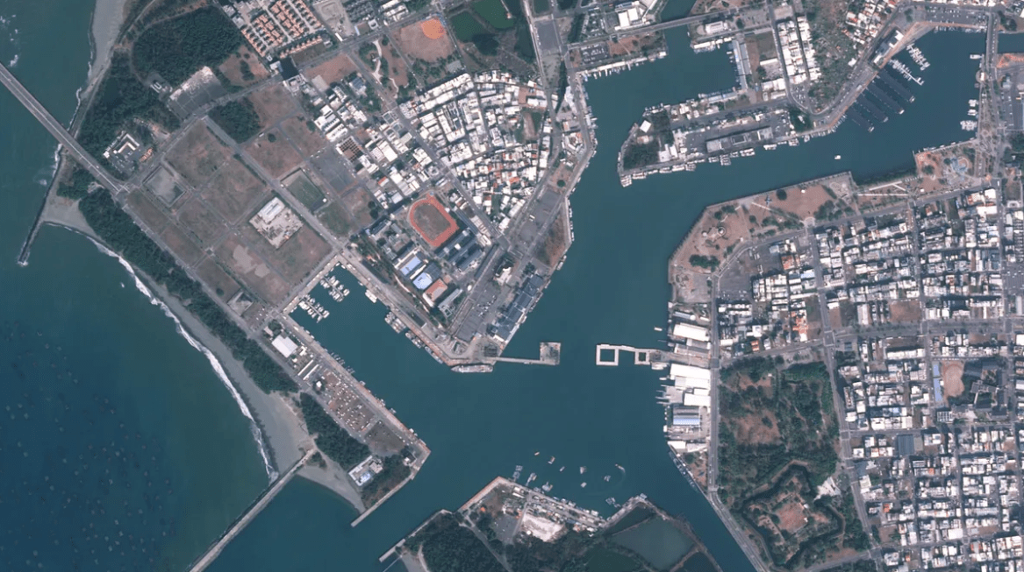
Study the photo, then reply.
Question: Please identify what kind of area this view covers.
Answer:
residential area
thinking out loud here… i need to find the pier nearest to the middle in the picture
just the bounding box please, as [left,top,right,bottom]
[493,343,561,365]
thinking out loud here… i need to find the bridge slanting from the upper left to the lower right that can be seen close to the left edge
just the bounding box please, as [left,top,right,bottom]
[0,64,124,191]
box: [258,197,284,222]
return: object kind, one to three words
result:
building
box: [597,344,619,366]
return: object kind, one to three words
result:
pier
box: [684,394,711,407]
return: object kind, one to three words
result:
building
